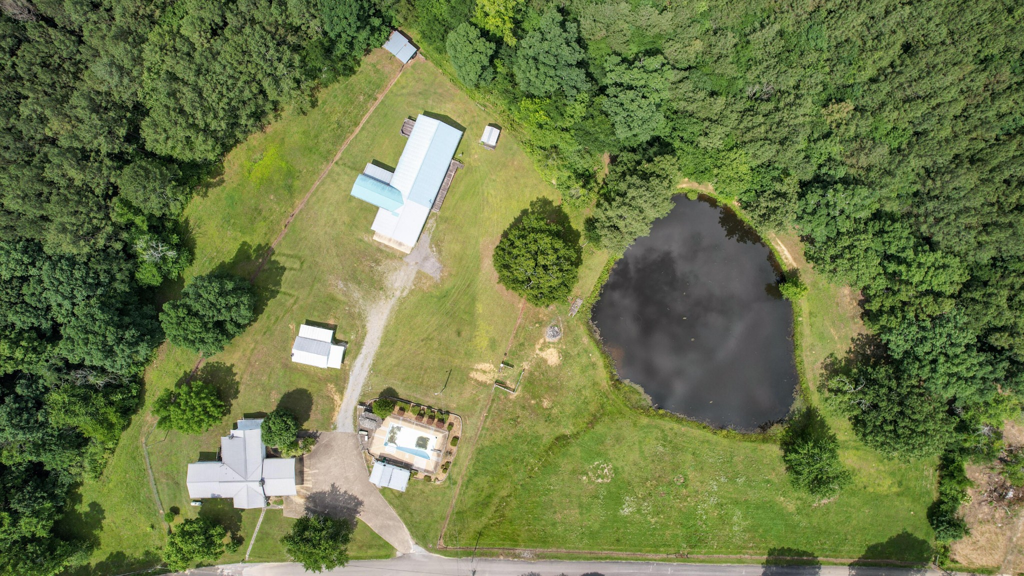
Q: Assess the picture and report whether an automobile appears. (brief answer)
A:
No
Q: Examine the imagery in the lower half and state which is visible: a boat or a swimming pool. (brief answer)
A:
swimming pool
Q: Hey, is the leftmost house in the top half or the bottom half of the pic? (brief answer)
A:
bottom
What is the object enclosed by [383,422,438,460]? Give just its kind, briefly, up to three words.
swimming pool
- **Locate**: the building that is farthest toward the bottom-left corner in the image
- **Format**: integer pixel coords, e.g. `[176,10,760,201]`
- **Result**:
[186,417,301,509]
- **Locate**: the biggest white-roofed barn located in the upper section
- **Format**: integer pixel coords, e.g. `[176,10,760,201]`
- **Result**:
[352,114,462,246]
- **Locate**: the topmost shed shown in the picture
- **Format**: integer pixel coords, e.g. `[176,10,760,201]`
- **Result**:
[383,31,417,66]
